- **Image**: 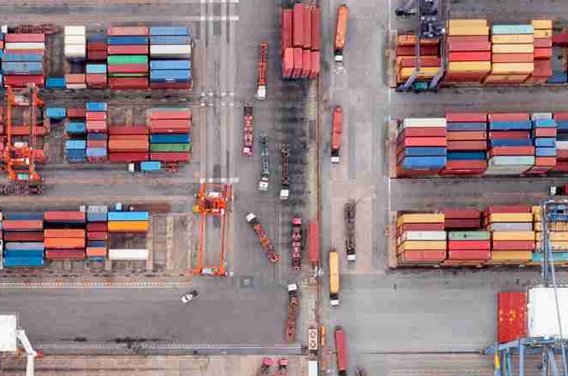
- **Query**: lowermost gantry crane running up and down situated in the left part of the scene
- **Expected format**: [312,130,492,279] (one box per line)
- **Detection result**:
[193,180,234,273]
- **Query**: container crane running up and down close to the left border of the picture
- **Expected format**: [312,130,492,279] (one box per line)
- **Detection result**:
[4,80,50,180]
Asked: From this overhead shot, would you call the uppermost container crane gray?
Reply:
Yes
